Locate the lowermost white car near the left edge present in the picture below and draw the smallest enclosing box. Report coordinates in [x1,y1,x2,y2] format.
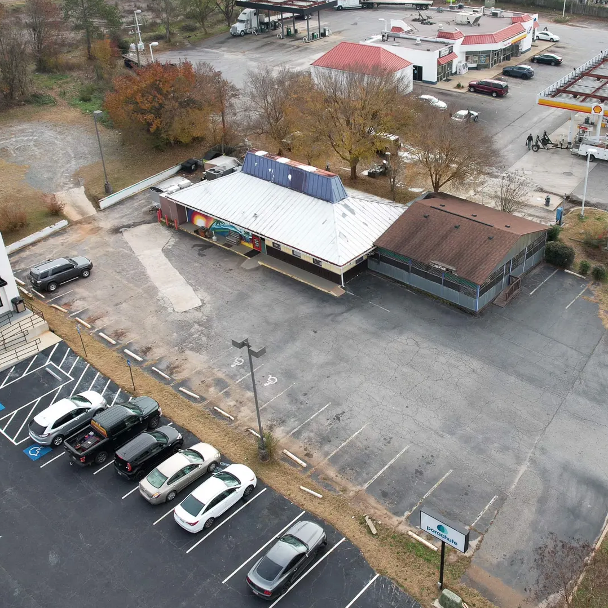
[28,391,115,448]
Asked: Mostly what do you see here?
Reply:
paved ground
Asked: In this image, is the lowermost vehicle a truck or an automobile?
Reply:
automobile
